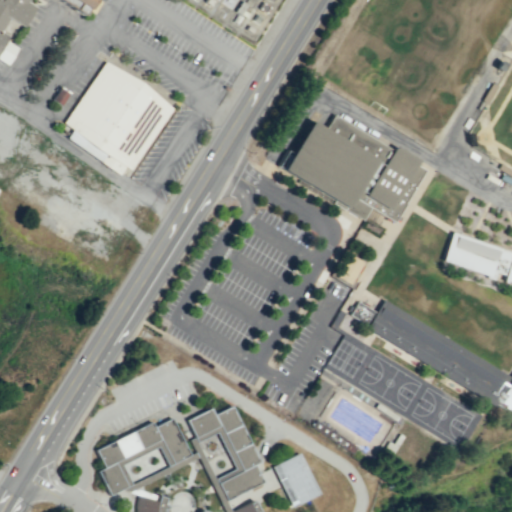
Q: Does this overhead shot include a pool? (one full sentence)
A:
Yes, I can see a pool in this picture.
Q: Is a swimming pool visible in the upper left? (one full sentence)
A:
No, no swimming pool is visible in the upper left.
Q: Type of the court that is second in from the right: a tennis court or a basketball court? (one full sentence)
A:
The court that is second in from the right is a basketball court.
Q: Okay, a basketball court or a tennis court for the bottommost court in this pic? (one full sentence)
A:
From above, the bottommost court can be identified as a basketball court.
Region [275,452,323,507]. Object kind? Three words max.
building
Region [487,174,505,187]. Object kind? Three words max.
vehicle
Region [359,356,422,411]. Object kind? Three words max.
basketball court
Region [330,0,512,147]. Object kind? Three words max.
sports field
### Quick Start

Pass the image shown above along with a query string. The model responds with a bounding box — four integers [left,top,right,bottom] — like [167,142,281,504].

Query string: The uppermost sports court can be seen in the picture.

[330,340,368,378]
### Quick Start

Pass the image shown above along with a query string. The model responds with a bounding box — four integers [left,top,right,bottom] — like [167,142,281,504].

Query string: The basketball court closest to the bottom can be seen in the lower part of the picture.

[412,387,476,442]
